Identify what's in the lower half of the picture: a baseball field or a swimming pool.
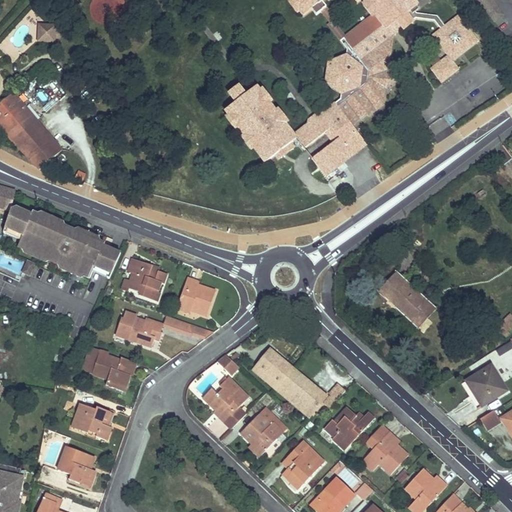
swimming pool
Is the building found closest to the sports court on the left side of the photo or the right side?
left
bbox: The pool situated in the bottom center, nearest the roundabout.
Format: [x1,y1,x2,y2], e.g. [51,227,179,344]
[196,372,219,394]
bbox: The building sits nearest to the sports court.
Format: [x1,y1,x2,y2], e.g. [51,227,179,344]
[36,21,58,42]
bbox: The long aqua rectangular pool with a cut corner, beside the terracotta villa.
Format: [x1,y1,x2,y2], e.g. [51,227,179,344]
[44,440,62,466]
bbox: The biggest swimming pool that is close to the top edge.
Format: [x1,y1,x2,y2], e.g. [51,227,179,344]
[10,24,30,48]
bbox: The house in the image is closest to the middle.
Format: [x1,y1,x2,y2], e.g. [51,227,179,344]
[178,276,216,318]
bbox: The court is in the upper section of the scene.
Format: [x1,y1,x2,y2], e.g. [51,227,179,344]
[90,0,126,26]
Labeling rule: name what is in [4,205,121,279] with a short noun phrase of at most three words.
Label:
building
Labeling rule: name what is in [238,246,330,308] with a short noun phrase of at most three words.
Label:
roundabout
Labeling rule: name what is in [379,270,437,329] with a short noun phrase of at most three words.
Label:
house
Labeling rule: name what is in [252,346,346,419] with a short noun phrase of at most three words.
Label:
building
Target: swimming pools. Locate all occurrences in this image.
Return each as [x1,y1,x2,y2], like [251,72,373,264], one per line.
[0,254,24,273]
[38,91,48,103]
[10,24,30,48]
[196,372,219,394]
[44,440,62,466]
